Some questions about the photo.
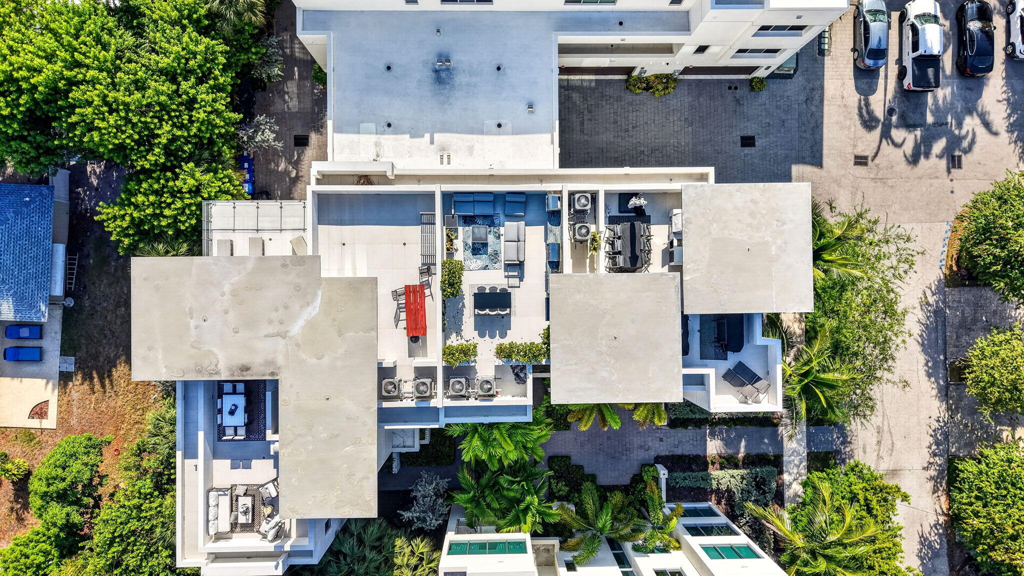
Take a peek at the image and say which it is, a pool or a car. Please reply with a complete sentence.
Looking from above, you can make out a car.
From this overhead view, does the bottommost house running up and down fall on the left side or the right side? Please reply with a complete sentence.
The bottommost house running up and down is on the left side of the image.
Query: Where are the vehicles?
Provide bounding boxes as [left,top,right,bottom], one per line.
[956,0,1001,77]
[899,0,946,91]
[855,0,896,70]
[1007,0,1024,64]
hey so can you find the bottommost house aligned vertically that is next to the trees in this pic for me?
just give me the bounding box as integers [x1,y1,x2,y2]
[0,172,69,322]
